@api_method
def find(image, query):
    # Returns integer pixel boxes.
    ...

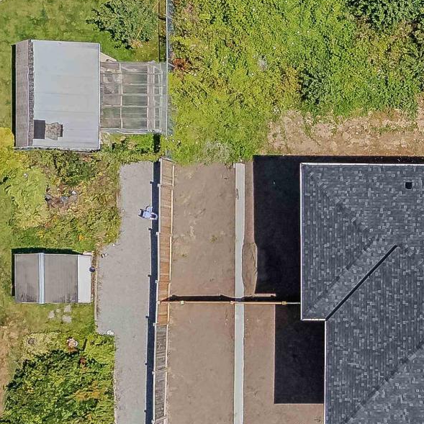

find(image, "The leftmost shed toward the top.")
[15,37,116,155]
